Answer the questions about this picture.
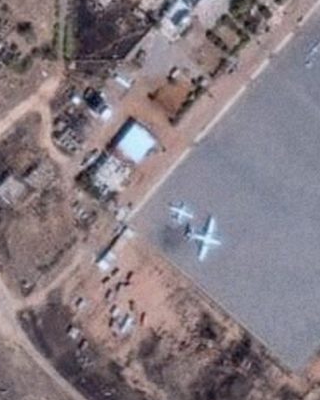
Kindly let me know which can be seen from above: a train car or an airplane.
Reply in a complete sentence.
It is an airplane that can be seen here.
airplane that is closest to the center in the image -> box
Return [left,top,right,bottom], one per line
[170,202,192,223]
